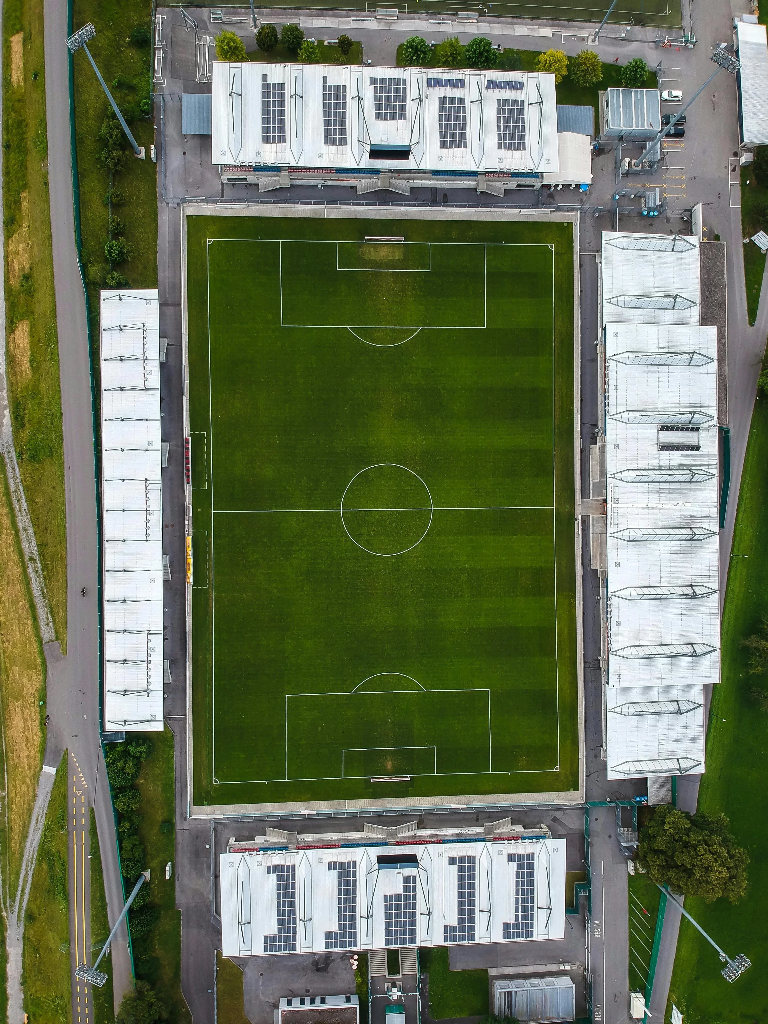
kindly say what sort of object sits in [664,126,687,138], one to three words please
vehicle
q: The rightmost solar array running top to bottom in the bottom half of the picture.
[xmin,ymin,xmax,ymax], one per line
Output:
[502,853,535,940]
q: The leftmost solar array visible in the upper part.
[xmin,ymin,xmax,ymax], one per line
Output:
[262,74,286,144]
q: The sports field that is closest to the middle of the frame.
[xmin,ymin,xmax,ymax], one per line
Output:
[187,215,579,806]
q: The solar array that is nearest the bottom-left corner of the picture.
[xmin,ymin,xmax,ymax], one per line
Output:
[263,864,297,953]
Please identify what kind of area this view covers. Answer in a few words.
sports ground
